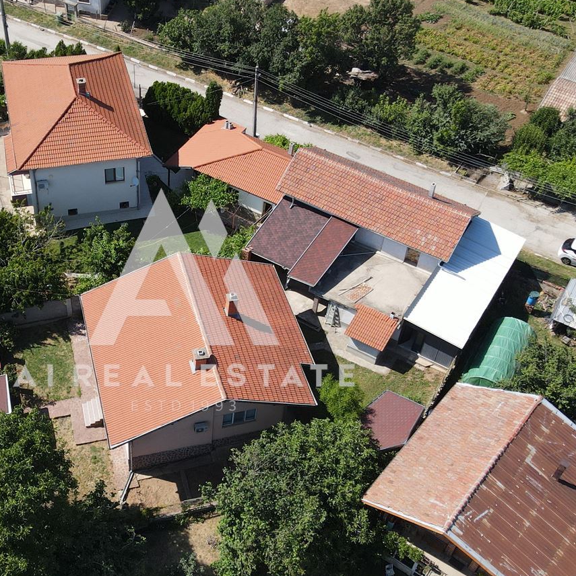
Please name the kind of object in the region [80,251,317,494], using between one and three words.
house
